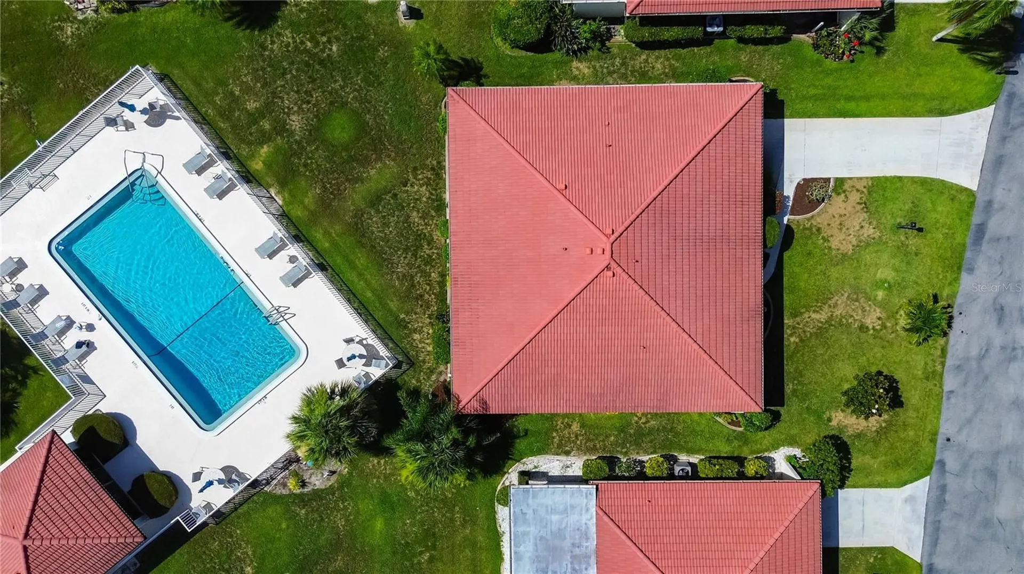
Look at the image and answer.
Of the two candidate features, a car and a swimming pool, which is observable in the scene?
swimming pool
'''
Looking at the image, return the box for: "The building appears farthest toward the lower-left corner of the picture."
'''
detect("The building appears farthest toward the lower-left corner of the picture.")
[0,430,162,574]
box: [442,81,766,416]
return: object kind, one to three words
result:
house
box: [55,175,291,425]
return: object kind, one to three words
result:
swimming pool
